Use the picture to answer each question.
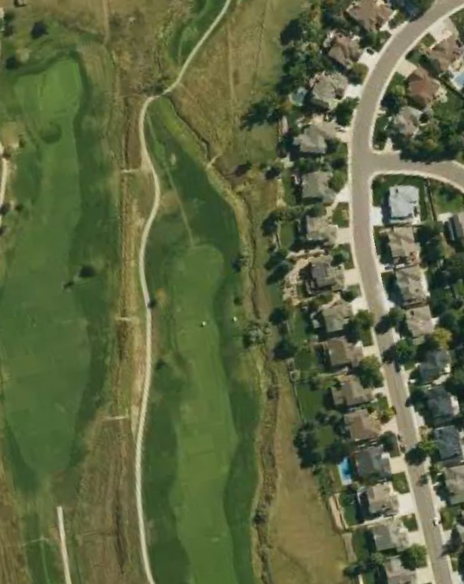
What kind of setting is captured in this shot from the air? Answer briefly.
golf course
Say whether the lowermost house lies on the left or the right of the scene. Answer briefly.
right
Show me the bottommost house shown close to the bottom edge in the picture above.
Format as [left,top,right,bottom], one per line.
[382,558,420,584]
